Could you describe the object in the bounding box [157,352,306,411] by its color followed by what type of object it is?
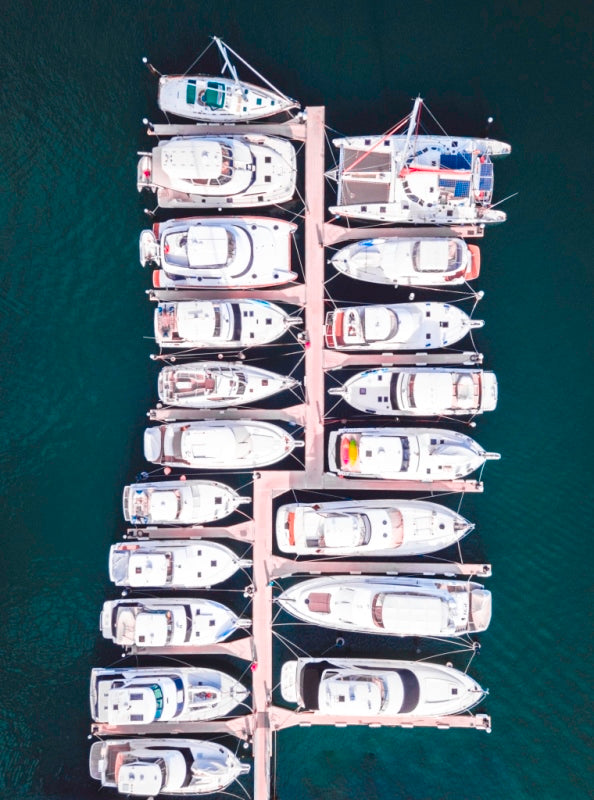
white boat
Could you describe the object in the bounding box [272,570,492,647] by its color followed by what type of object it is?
white boat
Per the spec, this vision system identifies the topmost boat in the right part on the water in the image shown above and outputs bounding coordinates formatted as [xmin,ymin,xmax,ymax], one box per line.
[324,91,518,228]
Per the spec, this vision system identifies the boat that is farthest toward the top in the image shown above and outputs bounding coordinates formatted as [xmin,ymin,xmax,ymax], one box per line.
[148,32,304,125]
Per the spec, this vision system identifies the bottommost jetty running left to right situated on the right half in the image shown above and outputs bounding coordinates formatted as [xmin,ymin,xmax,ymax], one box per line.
[272,706,491,731]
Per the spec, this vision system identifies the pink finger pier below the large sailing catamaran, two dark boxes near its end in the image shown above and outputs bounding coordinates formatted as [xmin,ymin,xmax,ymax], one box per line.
[324,223,484,246]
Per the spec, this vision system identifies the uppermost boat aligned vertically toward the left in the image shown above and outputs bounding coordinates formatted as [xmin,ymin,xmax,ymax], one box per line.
[136,154,155,194]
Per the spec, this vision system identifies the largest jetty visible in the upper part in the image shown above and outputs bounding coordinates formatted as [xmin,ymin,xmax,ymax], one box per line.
[305,106,325,471]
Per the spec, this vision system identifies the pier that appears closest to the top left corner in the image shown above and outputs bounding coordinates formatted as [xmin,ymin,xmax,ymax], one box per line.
[148,115,305,141]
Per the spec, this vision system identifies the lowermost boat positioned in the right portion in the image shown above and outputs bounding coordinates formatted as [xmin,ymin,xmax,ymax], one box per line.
[272,628,491,720]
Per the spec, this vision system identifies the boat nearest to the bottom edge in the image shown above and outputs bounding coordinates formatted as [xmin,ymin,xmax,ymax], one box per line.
[90,733,252,800]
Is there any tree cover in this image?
No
